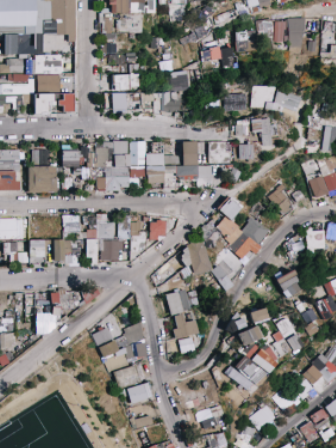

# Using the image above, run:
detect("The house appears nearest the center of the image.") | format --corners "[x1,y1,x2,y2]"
[150,214,167,240]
